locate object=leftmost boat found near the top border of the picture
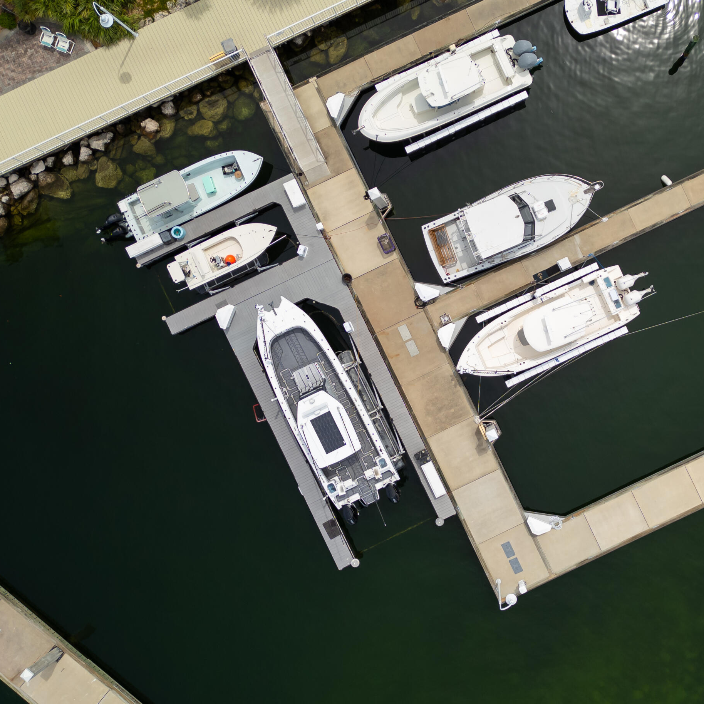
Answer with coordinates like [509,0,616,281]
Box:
[352,35,546,142]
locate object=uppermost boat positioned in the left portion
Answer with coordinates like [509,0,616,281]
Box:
[95,150,263,244]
